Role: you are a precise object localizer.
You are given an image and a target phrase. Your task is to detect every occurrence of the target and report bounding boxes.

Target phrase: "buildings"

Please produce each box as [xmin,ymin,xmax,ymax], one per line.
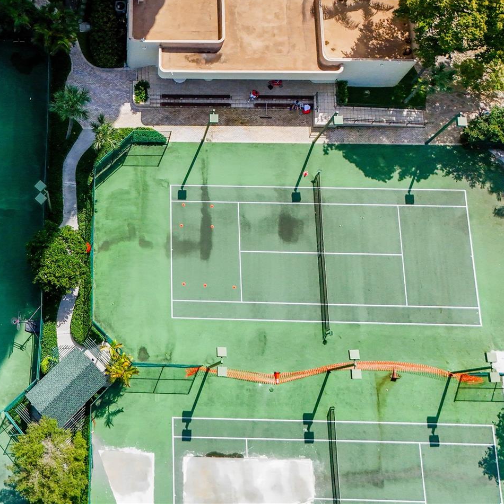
[12,331,114,432]
[126,0,416,87]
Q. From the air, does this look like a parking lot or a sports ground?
sports ground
